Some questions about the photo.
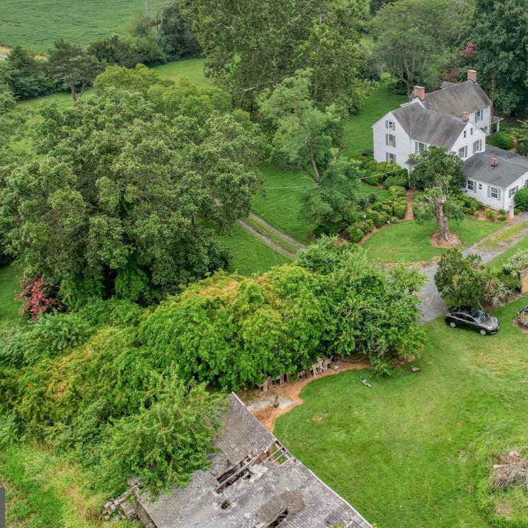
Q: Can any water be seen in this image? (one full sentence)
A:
No, there is no water in the image.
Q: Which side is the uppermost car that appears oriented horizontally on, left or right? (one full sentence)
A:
You can find the uppermost car that appears oriented horizontally on the right side of the picture.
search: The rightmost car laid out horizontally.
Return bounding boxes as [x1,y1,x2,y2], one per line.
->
[442,306,499,336]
